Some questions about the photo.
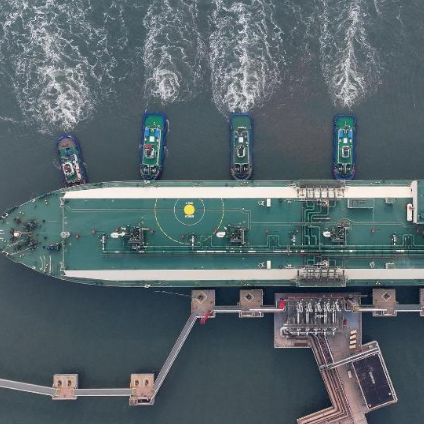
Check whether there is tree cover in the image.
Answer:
No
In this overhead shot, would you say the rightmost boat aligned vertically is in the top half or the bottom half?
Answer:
top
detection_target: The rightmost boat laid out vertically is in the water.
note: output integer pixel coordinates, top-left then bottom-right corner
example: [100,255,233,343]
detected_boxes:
[332,113,357,180]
